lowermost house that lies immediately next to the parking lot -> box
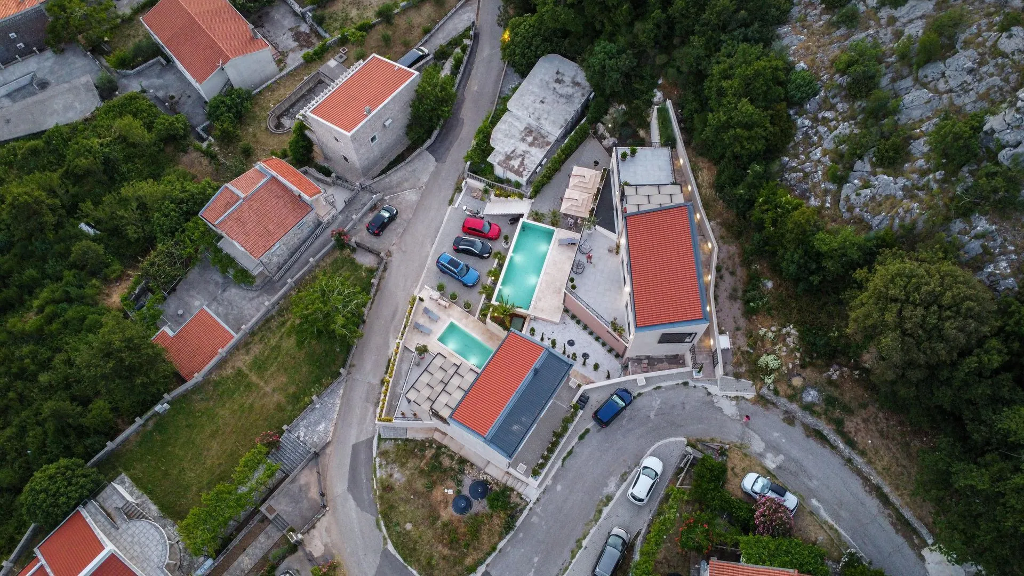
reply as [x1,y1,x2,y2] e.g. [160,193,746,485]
[448,329,575,467]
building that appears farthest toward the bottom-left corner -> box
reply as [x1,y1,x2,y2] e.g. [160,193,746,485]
[15,504,154,576]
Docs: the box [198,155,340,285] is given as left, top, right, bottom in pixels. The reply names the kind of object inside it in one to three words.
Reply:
house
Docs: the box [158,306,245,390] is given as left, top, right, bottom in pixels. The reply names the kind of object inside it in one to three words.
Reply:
shed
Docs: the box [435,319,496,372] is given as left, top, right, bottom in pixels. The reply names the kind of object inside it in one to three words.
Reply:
swimming pool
